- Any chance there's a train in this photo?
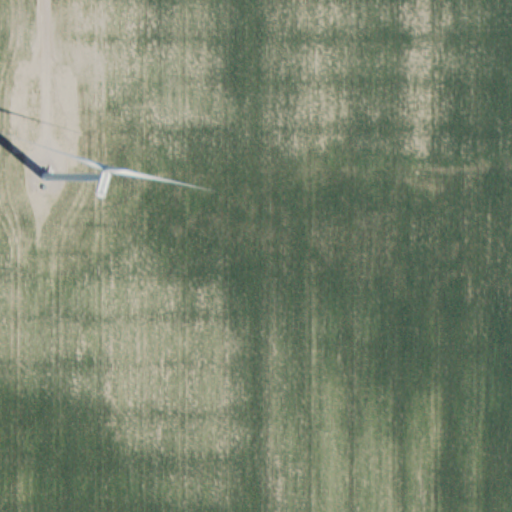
No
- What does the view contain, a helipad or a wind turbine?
wind turbine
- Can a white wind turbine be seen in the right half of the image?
No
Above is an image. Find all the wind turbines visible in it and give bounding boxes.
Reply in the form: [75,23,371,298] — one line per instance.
[37,144,214,196]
